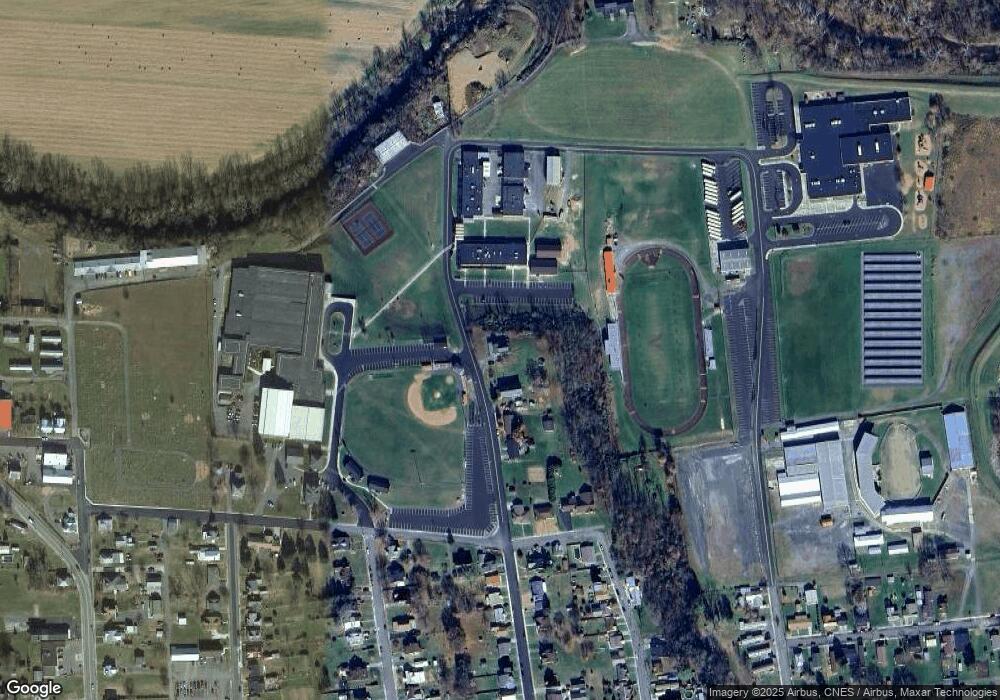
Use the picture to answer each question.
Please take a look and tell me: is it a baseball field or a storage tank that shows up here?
baseball field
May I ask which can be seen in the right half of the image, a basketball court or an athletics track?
athletics track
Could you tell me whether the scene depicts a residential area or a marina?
residential area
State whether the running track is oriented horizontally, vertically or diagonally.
vertically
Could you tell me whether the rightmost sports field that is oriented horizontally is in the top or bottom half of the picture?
top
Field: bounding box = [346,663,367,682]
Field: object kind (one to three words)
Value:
house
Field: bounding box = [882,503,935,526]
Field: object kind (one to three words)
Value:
barn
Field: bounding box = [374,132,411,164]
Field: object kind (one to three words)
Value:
shed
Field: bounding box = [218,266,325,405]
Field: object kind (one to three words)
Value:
building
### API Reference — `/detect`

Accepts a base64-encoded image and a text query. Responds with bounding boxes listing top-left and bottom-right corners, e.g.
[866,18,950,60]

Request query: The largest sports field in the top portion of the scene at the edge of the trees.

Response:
[525,45,745,143]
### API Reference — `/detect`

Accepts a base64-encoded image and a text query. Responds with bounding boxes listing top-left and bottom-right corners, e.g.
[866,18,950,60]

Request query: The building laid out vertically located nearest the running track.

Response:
[604,251,616,293]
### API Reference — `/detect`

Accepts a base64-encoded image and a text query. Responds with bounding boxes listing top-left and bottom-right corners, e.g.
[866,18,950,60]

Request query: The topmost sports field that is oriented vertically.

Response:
[624,252,702,430]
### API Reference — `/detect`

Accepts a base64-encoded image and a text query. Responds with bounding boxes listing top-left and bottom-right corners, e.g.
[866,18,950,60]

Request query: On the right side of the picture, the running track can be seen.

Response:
[617,245,710,435]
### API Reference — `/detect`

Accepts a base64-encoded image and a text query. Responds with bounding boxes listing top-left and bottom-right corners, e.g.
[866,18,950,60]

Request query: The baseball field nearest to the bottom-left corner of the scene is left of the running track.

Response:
[343,365,466,509]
